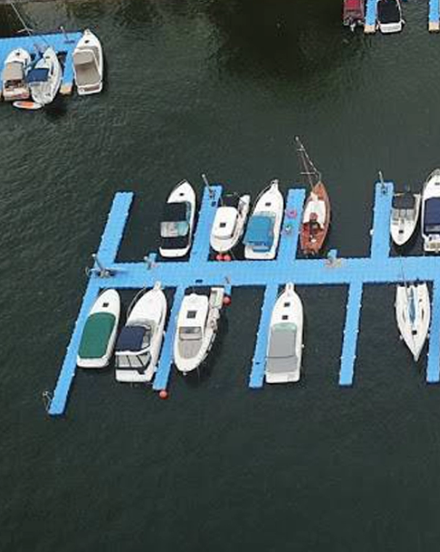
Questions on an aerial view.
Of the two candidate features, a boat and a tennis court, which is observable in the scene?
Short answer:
boat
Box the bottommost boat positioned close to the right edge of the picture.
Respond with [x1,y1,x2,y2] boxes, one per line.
[395,267,433,362]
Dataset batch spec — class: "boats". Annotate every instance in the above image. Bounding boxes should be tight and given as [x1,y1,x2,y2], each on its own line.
[157,175,202,262]
[291,136,331,257]
[377,0,408,38]
[263,278,341,390]
[388,195,419,255]
[76,287,126,372]
[342,0,364,31]
[409,167,440,258]
[243,176,288,260]
[210,194,256,257]
[113,280,170,392]
[170,285,229,379]
[395,267,433,362]
[74,32,107,103]
[12,2,63,112]
[1,50,39,104]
